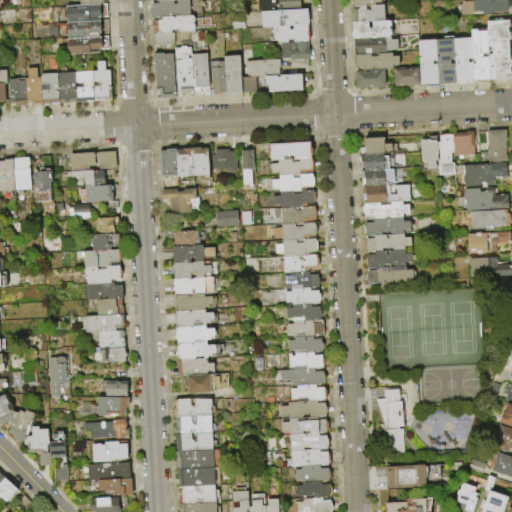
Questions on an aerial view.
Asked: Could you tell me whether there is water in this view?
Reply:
No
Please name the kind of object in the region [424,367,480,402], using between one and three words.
basketball court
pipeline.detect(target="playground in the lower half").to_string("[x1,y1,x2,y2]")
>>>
[412,412,474,450]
